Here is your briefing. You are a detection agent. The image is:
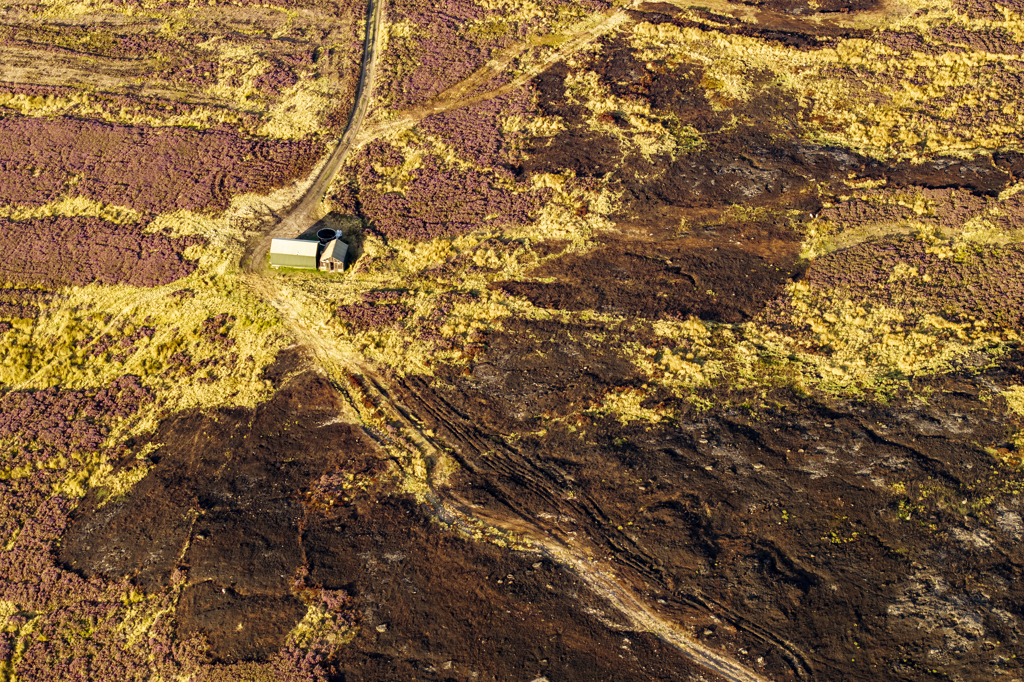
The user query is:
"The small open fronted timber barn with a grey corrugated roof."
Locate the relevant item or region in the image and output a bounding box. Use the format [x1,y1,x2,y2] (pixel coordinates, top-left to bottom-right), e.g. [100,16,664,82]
[319,238,349,272]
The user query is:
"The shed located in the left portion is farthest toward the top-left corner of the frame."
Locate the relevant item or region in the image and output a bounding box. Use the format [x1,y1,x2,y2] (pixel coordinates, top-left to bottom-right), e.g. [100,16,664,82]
[270,236,321,269]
